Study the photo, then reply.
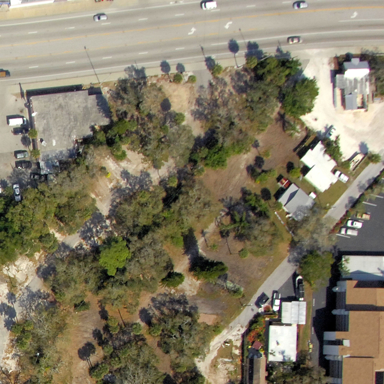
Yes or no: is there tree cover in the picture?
Yes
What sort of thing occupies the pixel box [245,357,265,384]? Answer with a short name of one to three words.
shed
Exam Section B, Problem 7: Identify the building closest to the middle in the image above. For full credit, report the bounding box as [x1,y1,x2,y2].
[278,183,315,217]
